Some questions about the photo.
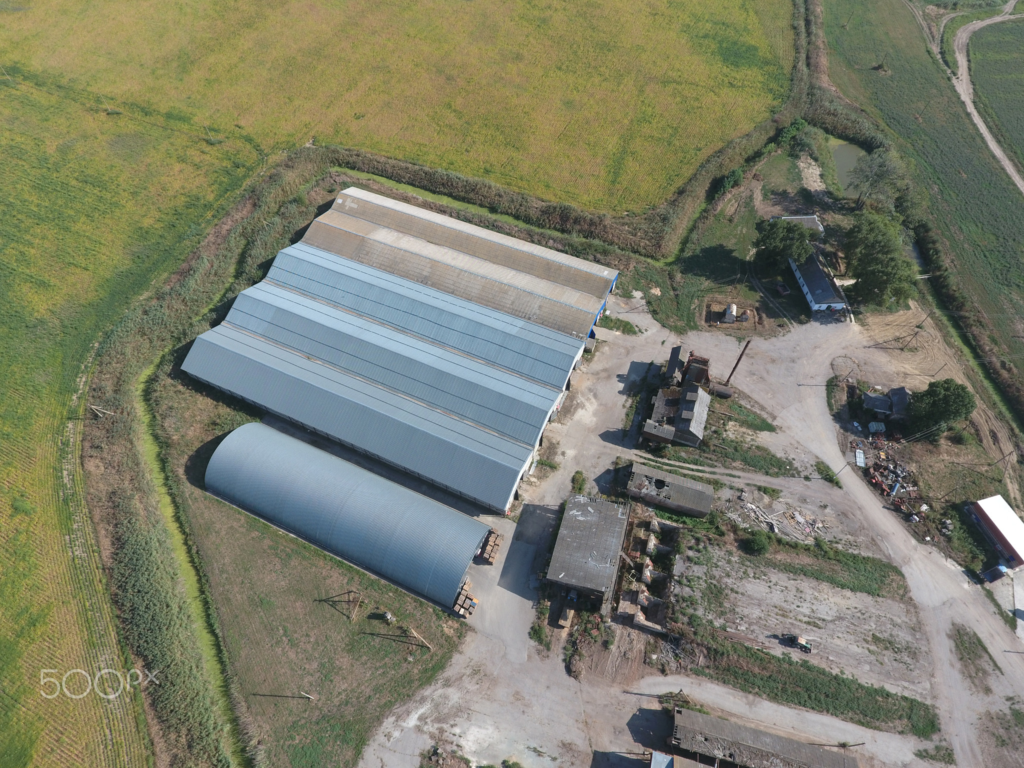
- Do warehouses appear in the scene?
Yes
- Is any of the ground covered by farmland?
Yes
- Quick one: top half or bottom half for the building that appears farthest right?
bottom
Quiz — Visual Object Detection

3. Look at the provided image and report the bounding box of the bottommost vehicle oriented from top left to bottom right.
[782,631,814,655]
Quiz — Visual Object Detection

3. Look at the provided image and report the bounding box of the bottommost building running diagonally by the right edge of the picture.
[968,495,1024,567]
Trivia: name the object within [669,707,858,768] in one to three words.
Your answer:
shed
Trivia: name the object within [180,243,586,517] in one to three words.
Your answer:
warehouse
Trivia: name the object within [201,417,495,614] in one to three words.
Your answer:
hangar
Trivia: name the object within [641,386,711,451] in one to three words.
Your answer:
building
